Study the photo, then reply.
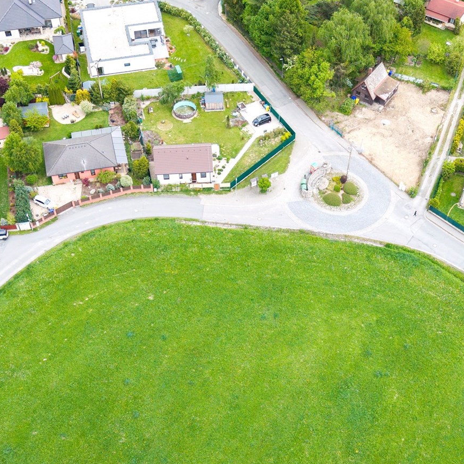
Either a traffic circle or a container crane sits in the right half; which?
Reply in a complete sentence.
Looking in the right half, you will find a traffic circle.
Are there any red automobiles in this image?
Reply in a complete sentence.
No, this view has no red automobile in it.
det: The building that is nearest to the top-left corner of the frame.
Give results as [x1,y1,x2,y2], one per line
[0,0,66,50]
